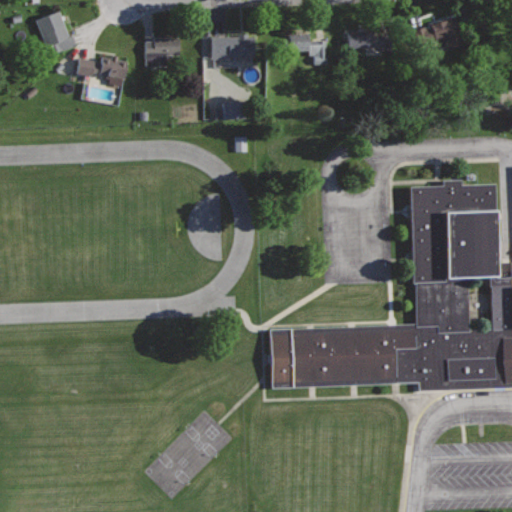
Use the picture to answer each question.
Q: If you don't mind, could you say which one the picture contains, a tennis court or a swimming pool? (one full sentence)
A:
Visible in the photo is a swimming pool.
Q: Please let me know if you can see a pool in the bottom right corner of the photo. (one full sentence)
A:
No, I can find no pool in the bottom right corner of the photo.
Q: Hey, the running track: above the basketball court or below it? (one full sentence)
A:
The position of the running track is above the basketball court.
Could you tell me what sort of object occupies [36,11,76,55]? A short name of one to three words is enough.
house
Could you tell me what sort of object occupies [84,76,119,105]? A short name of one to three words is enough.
swimming pool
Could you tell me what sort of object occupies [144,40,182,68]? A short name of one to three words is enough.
house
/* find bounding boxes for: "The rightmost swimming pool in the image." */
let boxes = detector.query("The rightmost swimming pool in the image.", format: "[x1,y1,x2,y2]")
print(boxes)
[243,68,258,84]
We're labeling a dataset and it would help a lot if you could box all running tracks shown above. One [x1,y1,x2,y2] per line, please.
[0,140,254,323]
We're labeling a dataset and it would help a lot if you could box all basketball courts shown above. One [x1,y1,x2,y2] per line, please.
[145,411,232,499]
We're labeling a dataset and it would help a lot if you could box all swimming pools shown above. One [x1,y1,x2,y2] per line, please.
[84,76,119,105]
[243,68,258,84]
